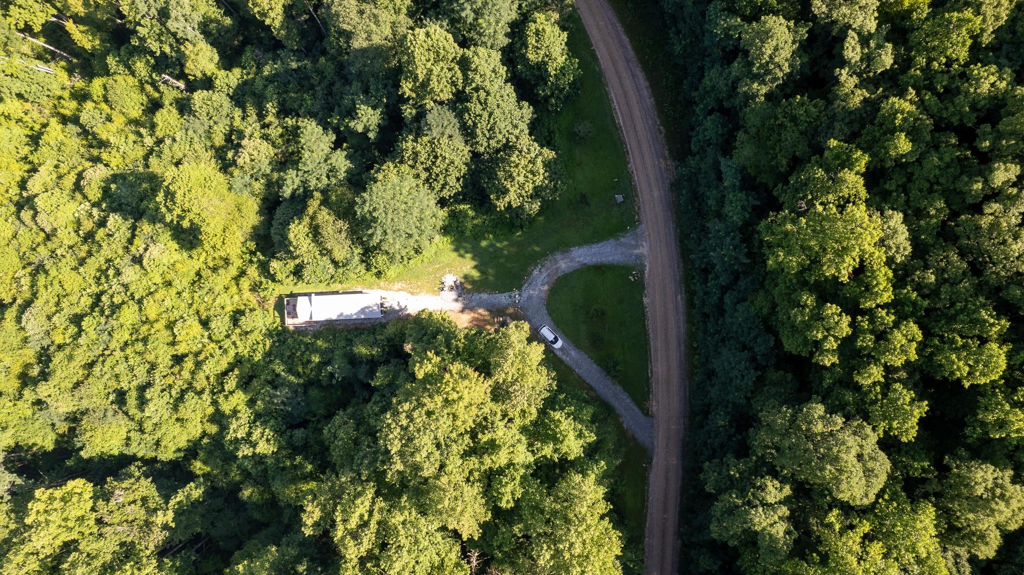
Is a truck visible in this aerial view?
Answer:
No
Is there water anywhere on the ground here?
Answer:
No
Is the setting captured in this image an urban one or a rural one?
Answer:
rural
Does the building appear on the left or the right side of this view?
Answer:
left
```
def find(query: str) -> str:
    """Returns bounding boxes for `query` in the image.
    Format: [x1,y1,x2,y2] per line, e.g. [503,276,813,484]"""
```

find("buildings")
[296,293,383,321]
